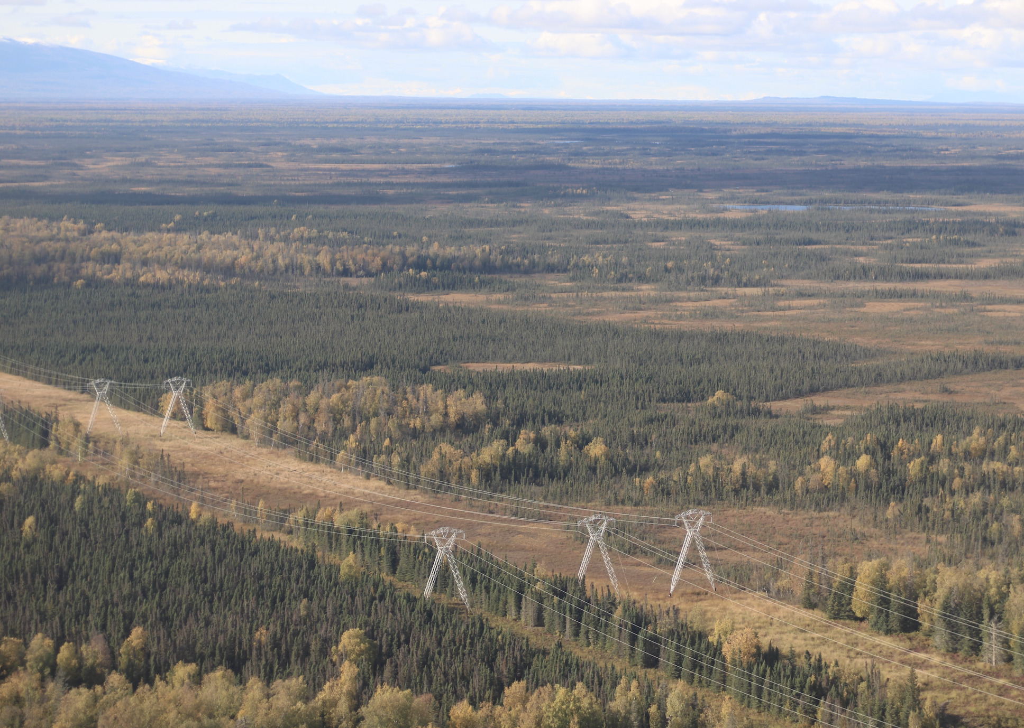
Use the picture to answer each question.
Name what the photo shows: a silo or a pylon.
pylon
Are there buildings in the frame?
No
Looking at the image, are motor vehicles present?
No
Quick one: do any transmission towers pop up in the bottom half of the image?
Yes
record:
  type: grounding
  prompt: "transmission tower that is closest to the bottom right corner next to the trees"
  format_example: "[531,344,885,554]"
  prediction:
[669,508,728,595]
